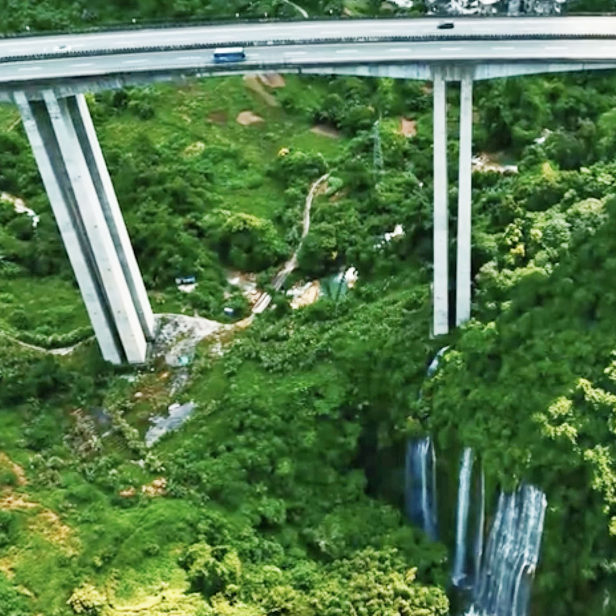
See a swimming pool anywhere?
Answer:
No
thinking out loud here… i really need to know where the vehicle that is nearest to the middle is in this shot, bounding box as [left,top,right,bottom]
[219,304,238,316]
